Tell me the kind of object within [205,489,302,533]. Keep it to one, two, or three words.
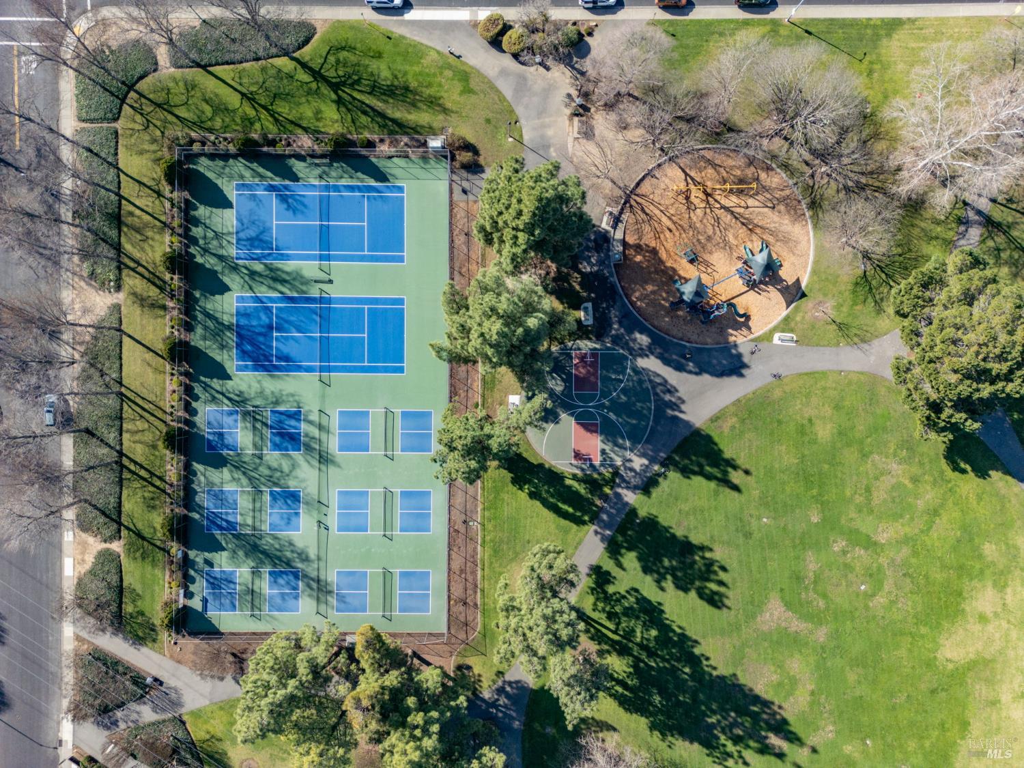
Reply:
sports court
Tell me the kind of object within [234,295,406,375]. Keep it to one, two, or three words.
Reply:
tennis court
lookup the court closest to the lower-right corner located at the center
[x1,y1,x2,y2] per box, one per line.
[524,340,655,471]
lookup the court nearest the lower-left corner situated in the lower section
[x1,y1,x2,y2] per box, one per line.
[204,569,301,613]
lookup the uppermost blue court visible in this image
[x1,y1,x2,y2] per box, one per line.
[234,182,406,264]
